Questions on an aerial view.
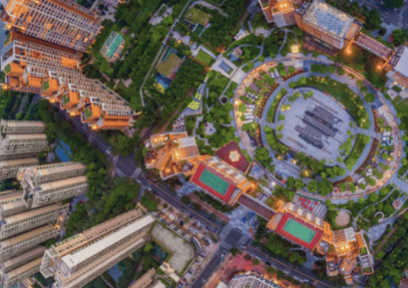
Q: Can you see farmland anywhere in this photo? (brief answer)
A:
No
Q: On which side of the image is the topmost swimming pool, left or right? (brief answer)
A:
left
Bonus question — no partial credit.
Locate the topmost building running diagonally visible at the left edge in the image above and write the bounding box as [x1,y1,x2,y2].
[0,29,135,127]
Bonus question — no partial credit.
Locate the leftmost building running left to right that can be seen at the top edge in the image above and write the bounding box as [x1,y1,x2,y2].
[1,0,105,51]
